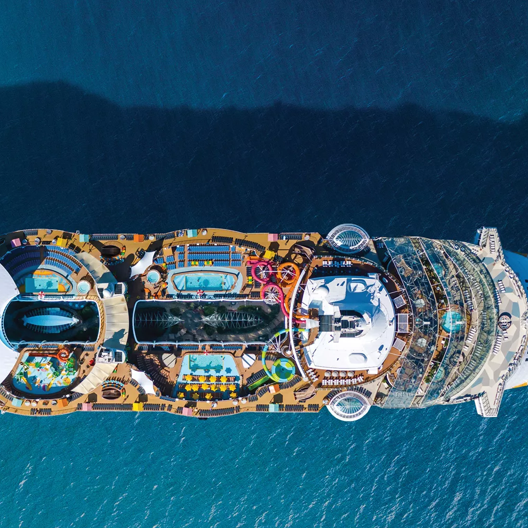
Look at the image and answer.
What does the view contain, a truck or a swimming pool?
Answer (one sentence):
The image shows a swimming pool.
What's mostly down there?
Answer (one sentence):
The bulk of the photo consists of water.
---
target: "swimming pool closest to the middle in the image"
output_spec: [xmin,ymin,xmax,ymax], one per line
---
[164,268,245,295]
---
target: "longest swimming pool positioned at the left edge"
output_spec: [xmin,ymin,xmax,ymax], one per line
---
[12,265,78,297]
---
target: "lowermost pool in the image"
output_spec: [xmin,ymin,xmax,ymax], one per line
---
[178,352,240,398]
